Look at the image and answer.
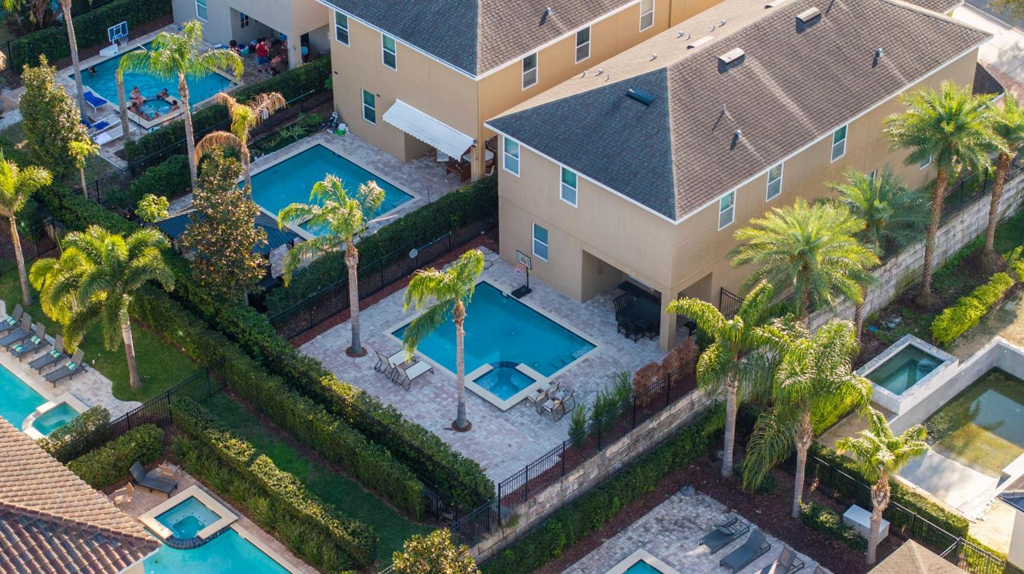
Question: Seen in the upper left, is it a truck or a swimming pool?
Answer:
swimming pool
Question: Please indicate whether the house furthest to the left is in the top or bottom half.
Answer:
bottom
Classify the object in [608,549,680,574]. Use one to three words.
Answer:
swimming pool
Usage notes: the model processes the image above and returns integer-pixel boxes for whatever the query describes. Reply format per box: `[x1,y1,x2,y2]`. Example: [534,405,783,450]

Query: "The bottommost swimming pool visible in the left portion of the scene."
[136,483,306,574]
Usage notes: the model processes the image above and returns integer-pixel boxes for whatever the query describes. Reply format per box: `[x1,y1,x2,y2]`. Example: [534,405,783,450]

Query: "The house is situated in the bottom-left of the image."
[0,409,164,574]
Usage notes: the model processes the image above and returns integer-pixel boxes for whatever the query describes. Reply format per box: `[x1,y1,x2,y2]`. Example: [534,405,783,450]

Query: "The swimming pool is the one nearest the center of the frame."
[380,274,607,410]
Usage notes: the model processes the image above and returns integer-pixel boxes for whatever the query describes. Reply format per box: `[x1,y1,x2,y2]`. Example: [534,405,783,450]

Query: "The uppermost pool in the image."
[59,37,241,125]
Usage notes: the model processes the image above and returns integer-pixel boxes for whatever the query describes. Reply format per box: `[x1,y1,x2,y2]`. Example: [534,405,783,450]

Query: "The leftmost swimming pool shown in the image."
[0,355,94,449]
